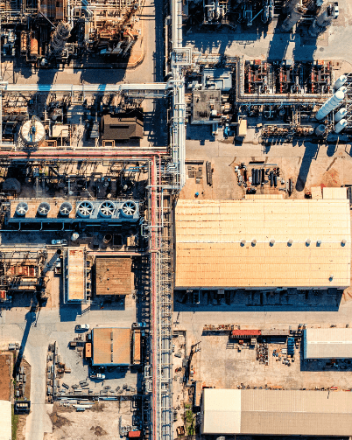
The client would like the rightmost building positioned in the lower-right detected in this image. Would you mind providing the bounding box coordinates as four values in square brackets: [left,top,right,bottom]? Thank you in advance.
[301,328,352,363]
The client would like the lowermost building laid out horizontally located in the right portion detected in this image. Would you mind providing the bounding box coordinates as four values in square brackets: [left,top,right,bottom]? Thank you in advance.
[198,388,352,438]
